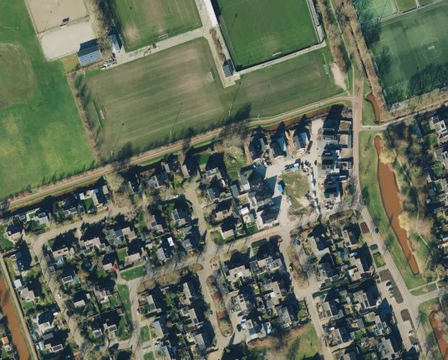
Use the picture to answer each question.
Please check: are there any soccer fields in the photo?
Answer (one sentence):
Yes, the frame does contain a soccer field.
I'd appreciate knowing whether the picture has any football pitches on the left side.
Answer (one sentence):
Yes, a football pitch is visible on the left side.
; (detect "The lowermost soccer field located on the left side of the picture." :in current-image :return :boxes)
[80,40,230,161]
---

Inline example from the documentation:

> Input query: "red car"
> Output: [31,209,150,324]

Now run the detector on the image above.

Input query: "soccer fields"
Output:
[351,0,401,24]
[226,47,342,116]
[214,0,319,67]
[110,0,201,53]
[80,40,230,161]
[369,0,448,104]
